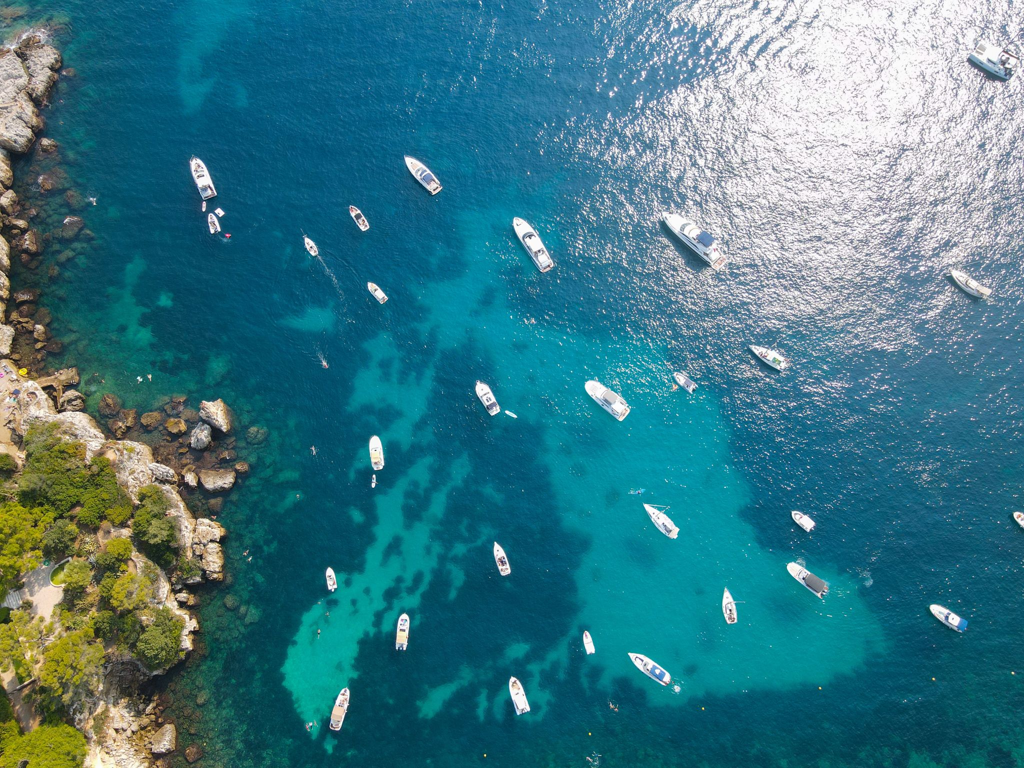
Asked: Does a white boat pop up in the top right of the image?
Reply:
Yes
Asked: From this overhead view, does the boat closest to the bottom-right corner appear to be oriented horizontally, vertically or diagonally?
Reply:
diagonally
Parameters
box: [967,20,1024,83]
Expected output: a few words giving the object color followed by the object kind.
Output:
white boat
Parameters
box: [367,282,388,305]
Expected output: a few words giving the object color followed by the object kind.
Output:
white boat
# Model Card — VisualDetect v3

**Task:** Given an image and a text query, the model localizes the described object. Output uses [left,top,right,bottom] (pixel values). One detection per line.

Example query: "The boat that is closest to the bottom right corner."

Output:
[927,604,970,637]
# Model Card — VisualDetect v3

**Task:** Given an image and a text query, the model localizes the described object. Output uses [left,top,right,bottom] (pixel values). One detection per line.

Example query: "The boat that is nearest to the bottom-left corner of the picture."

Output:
[329,688,350,730]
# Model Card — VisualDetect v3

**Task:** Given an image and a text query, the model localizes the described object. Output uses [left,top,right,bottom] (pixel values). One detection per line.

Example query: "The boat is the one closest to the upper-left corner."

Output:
[190,155,218,203]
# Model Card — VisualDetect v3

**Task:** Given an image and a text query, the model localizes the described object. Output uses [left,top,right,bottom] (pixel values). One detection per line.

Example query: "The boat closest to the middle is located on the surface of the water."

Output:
[475,380,502,418]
